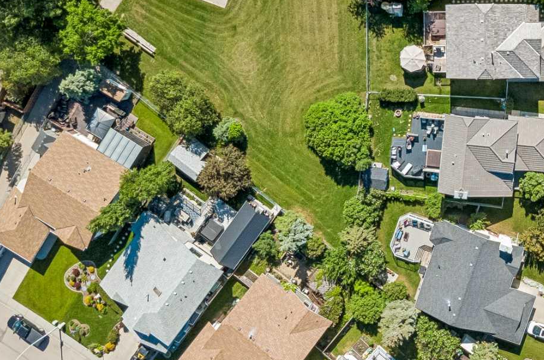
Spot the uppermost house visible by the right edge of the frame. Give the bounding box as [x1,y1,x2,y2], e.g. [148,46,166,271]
[445,2,544,82]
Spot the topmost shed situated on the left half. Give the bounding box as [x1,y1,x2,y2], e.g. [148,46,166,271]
[100,80,131,101]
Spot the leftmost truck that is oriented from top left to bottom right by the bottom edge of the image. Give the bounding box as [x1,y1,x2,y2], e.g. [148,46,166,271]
[8,314,51,348]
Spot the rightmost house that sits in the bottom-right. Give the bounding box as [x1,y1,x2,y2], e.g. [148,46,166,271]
[415,220,537,346]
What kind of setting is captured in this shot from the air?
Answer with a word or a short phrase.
residential area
